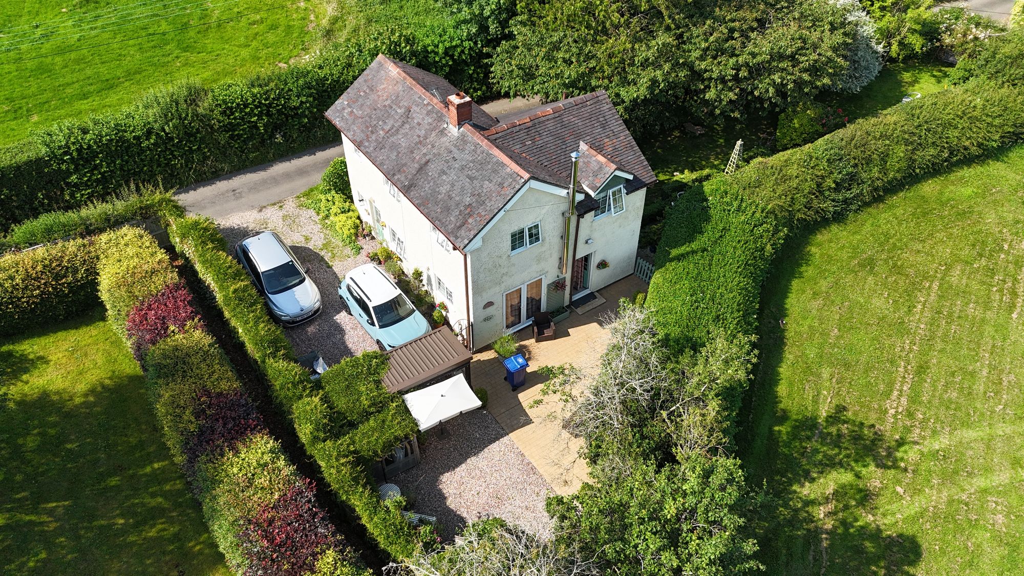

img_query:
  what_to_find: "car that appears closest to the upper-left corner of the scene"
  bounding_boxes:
[241,235,324,324]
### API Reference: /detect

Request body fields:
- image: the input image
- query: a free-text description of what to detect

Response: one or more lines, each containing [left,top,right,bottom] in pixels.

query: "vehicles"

[341,265,428,354]
[241,235,324,324]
